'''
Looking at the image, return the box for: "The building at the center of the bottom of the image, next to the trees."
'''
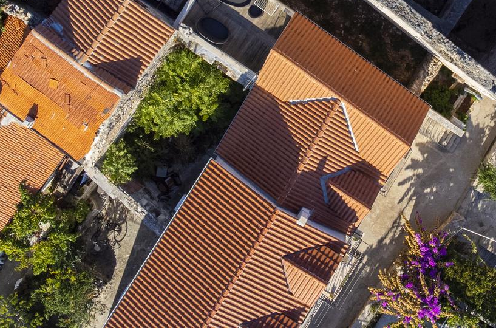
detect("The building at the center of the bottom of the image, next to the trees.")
[101,158,375,328]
